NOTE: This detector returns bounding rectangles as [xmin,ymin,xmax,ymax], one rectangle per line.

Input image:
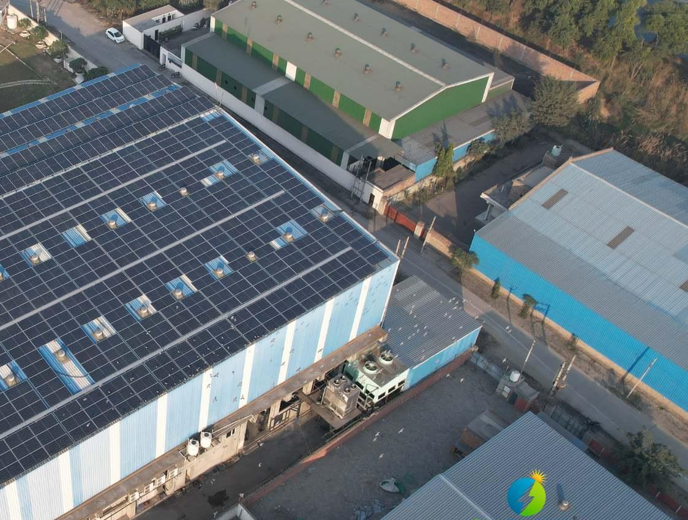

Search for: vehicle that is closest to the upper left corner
[105,27,128,45]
